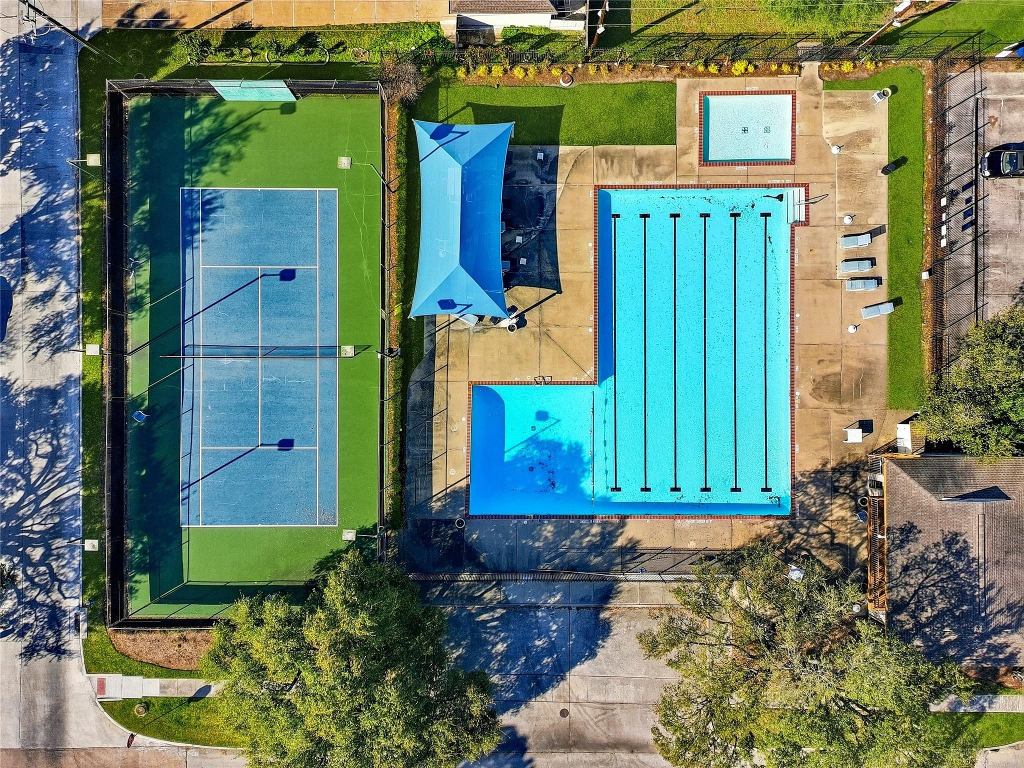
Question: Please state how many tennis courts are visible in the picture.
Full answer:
Only 1 tennis court is visible.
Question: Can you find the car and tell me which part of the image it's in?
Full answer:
The car appears toward the top right of the photo.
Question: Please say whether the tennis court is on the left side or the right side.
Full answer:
The tennis court sits on the left side.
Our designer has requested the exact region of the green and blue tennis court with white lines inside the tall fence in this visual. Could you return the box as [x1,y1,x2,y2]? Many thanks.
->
[129,97,388,619]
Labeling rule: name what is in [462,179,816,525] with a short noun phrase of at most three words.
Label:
swimming pool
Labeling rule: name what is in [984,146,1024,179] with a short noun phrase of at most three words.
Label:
car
